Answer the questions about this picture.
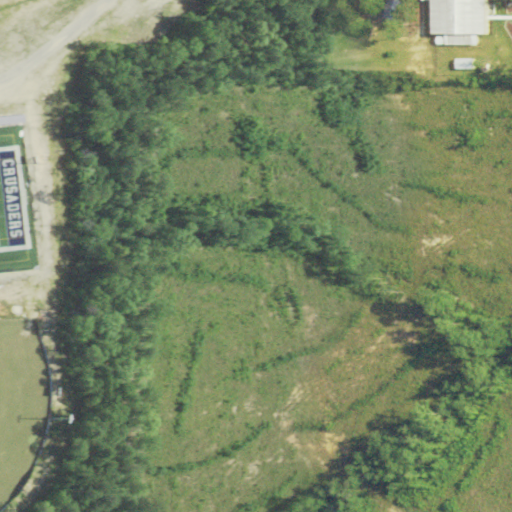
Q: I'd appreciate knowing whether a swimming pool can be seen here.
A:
No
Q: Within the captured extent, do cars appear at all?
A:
No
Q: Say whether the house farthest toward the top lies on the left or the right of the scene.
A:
right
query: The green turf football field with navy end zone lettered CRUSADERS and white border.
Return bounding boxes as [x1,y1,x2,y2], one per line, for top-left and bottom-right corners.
[0,126,38,274]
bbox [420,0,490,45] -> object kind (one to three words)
house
